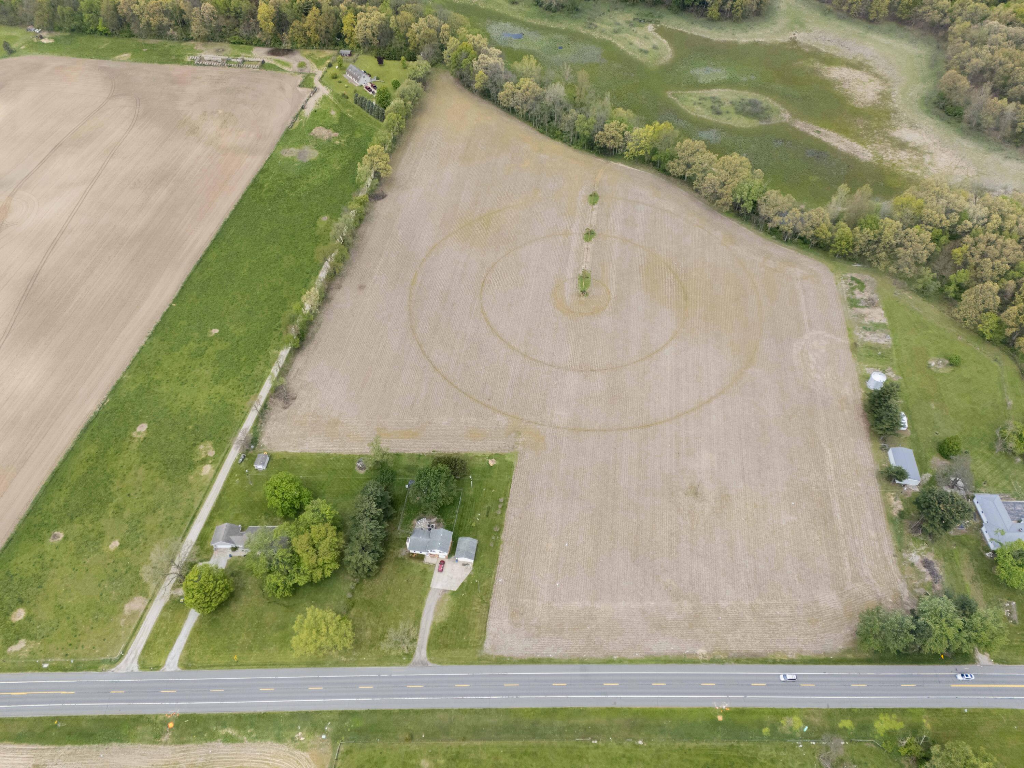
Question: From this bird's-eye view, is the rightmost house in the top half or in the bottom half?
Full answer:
It is in the bottom half that the rightmost house appears.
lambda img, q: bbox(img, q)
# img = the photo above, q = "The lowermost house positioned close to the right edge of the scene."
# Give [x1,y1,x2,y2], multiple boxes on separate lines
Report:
[974,495,1024,551]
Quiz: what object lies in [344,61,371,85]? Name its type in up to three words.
house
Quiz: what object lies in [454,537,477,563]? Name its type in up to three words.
building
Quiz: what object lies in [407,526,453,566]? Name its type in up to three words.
house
